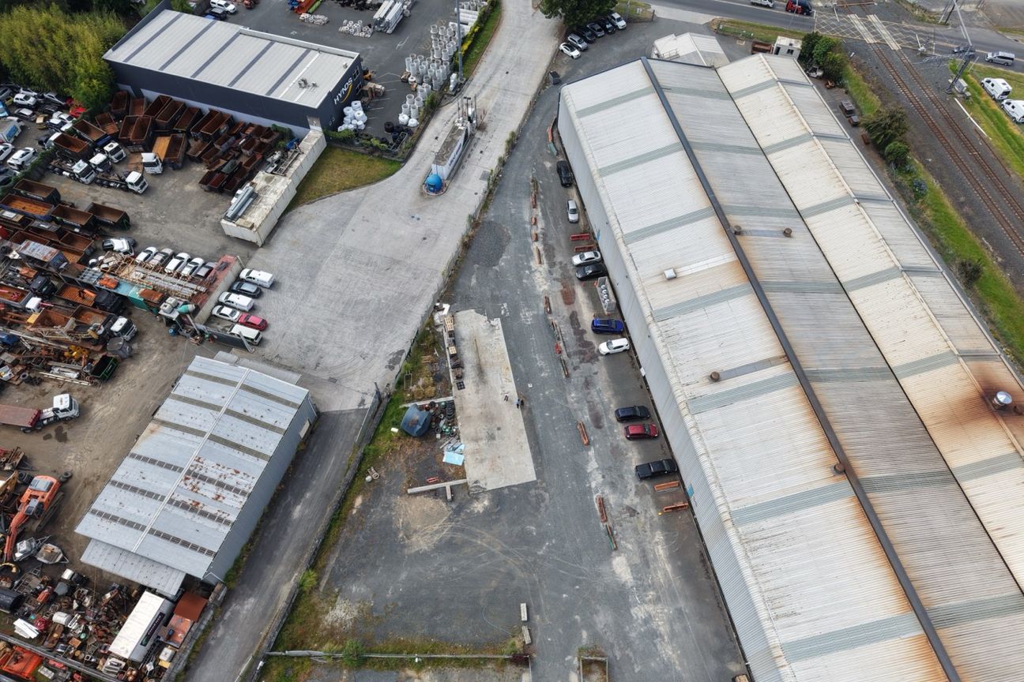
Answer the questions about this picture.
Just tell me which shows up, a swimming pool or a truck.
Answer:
truck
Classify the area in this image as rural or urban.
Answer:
urban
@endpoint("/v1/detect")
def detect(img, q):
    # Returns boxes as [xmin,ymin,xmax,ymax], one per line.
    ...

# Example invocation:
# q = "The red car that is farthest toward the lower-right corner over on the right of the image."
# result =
[625,423,658,440]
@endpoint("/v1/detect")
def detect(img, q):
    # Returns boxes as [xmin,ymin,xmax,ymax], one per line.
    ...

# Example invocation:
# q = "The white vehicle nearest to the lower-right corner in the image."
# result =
[599,337,630,355]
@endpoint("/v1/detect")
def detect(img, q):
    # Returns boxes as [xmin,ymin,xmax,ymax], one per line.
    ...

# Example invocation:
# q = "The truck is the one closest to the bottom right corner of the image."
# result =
[635,458,677,479]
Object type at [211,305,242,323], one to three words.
car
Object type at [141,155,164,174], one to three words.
vehicle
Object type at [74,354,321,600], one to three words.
shed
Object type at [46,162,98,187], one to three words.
truck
